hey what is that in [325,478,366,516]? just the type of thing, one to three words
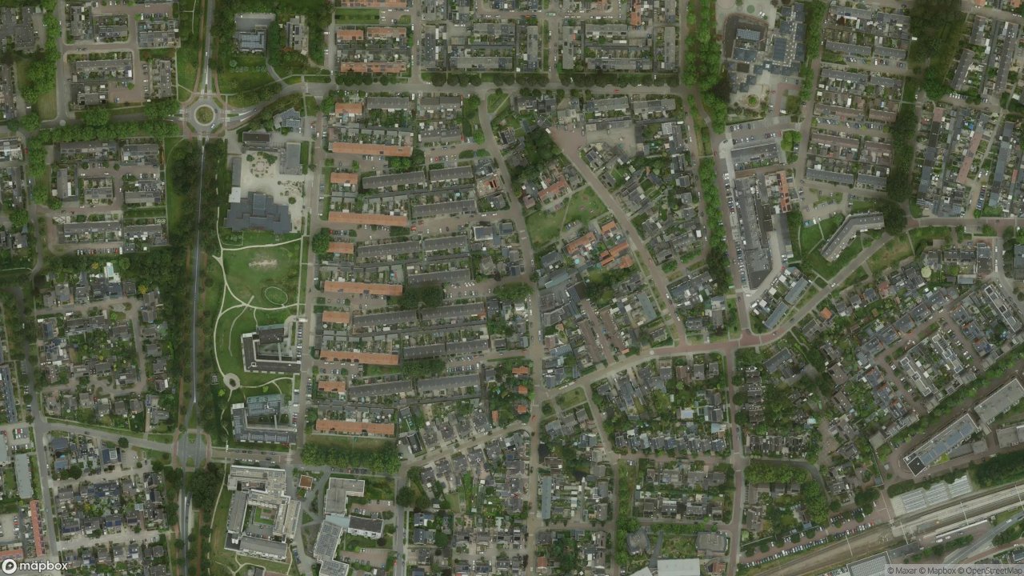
building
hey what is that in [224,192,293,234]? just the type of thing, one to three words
building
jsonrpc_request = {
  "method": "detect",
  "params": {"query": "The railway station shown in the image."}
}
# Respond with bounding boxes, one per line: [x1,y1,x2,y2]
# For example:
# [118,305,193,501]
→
[894,483,1024,538]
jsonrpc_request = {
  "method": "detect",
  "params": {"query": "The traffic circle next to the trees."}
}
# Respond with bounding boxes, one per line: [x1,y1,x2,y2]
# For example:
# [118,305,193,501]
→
[182,92,227,138]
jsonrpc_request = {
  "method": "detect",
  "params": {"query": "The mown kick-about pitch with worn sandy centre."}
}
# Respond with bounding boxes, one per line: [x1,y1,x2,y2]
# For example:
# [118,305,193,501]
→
[228,241,299,282]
